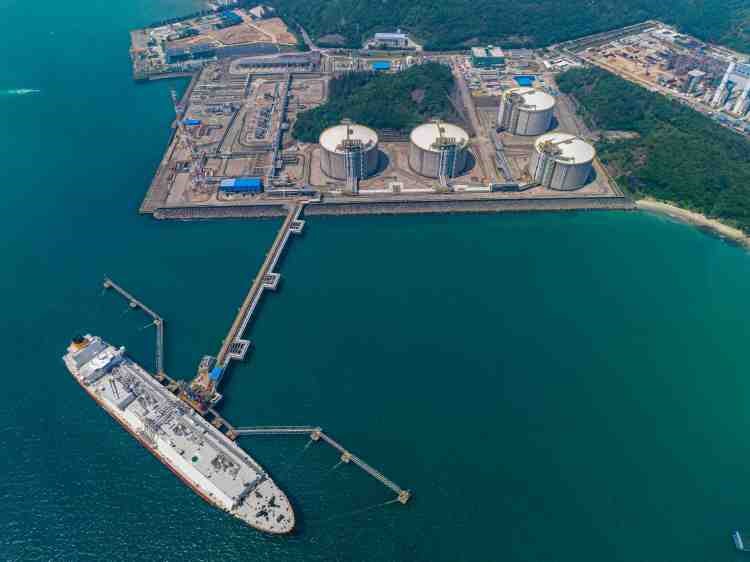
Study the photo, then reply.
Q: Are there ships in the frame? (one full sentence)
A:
Yes, this view includes a ship.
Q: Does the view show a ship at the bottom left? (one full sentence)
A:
Yes, a ship is visible at the bottom left.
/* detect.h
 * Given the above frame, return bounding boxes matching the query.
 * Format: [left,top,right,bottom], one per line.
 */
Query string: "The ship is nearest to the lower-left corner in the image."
[62,338,289,527]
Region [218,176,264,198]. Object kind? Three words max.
building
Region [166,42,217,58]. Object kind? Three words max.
building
